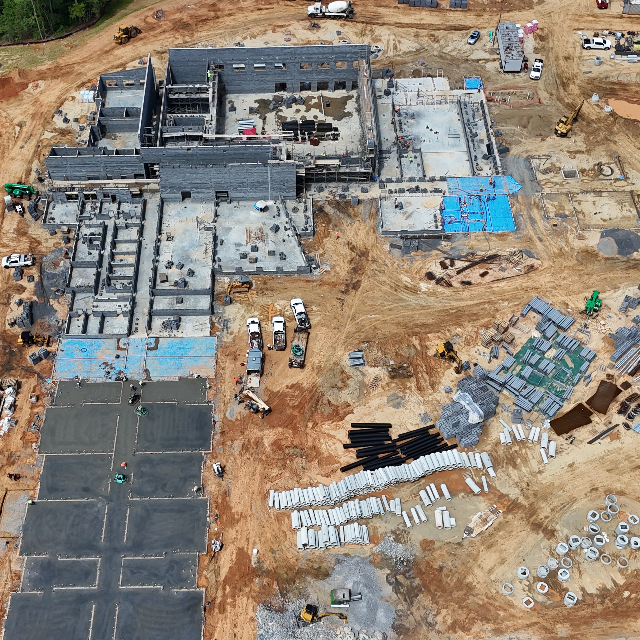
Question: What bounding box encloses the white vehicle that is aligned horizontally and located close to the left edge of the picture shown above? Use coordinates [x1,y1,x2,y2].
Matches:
[0,254,36,269]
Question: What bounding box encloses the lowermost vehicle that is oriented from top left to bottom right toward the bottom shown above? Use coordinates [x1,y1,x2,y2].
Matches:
[227,384,269,417]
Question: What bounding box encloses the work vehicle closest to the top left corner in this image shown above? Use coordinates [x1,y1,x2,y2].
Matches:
[112,25,146,44]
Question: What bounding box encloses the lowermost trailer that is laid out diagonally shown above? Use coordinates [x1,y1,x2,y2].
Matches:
[453,502,505,538]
